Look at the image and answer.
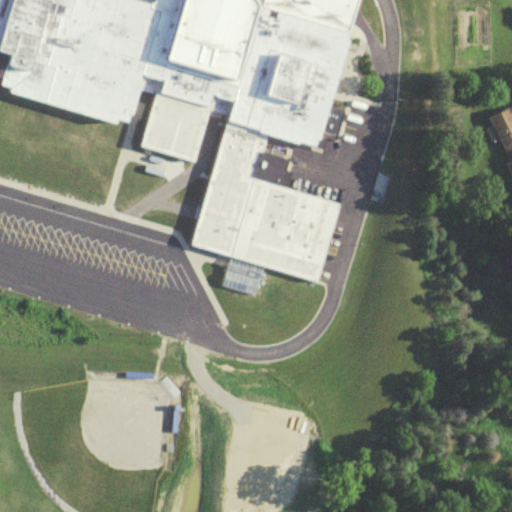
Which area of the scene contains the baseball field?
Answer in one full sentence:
You can find the baseball field in the bottom left area of the picture.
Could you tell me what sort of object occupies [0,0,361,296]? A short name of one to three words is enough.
building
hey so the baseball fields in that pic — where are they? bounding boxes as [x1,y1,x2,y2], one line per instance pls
[14,370,177,512]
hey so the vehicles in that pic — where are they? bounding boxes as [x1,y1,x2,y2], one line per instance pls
[262,160,268,170]
[343,134,358,143]
[304,180,311,192]
[346,114,364,124]
[324,186,332,199]
[338,190,346,202]
[310,182,318,194]
[292,178,298,190]
[351,101,370,110]
[332,188,340,201]
[296,178,304,190]
[316,184,324,196]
